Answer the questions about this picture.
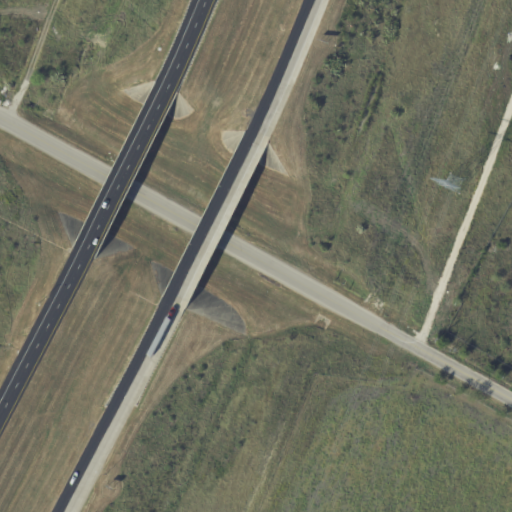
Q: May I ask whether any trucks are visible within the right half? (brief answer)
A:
No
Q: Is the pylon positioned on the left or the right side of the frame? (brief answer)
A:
right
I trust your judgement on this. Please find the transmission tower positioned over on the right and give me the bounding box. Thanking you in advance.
[432,172,466,194]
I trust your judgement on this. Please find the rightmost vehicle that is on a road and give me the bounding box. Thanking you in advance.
[148,305,178,354]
